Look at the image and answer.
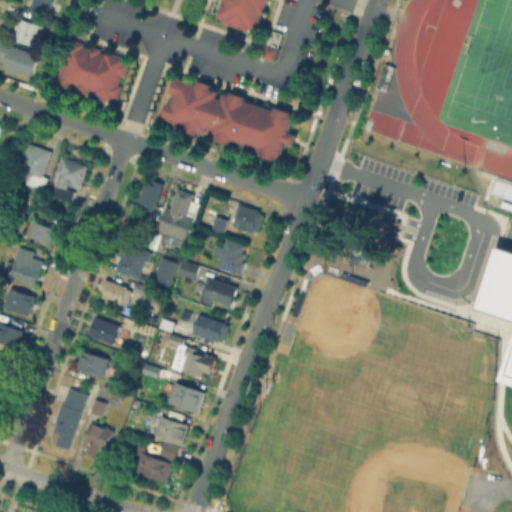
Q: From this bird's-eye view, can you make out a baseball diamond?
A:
Yes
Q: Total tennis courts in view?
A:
0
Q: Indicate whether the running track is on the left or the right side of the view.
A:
right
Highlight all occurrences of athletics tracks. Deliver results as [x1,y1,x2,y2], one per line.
[370,0,512,182]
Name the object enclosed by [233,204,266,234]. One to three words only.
house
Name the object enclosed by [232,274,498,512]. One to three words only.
baseball field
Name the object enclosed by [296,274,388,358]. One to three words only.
baseball field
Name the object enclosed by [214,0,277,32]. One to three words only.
building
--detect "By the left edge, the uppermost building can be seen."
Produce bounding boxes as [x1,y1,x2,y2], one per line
[16,20,44,47]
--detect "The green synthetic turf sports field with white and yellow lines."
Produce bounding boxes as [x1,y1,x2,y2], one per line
[440,0,512,146]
